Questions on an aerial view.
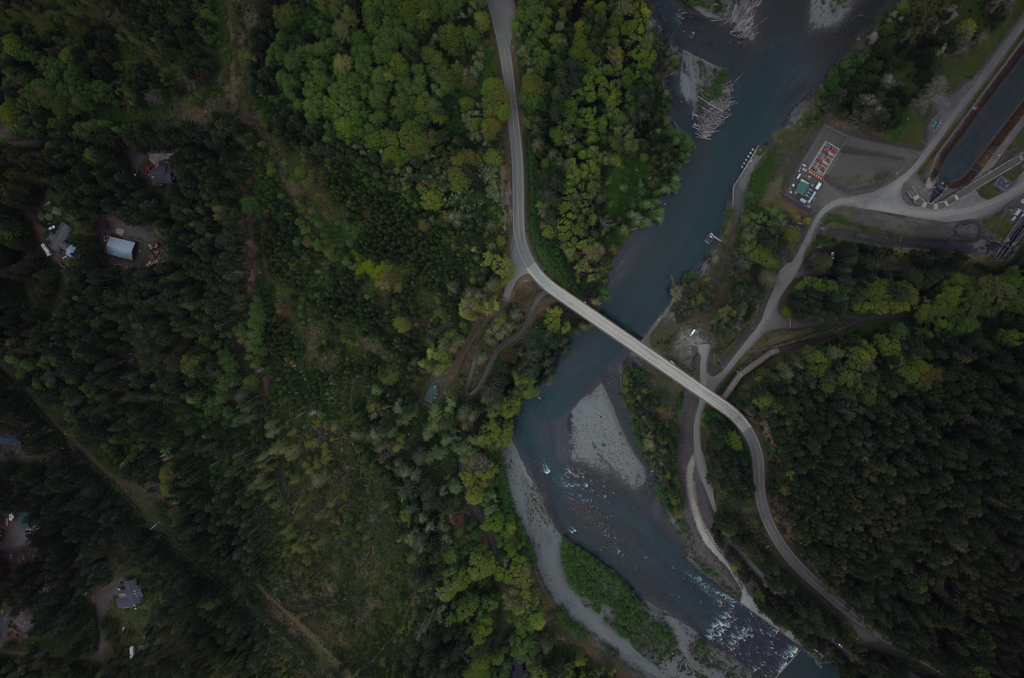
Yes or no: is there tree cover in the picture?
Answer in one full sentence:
Yes, the picture does contain tree cover.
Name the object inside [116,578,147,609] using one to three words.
house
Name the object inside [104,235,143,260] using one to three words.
barn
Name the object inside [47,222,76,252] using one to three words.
house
